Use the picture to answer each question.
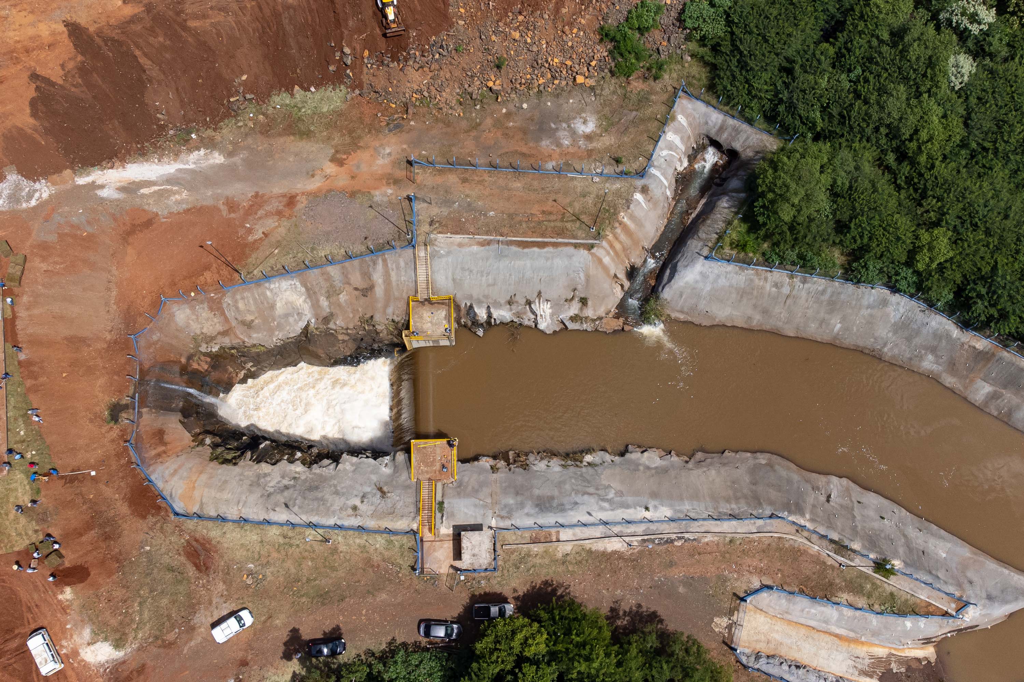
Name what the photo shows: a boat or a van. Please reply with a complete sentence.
I can see a van in this picture.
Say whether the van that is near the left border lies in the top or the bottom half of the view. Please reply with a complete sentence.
It is in the bottom half that the van that is near the left border appears.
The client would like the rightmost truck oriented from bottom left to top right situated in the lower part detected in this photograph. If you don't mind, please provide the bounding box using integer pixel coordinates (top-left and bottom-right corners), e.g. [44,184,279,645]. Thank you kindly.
[210,608,257,646]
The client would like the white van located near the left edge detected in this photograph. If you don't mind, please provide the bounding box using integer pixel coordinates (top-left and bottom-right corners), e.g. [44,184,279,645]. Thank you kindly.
[26,627,65,679]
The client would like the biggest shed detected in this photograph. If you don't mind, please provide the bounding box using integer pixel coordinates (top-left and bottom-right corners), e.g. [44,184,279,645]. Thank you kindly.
[461,531,494,568]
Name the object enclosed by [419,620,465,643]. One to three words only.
car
